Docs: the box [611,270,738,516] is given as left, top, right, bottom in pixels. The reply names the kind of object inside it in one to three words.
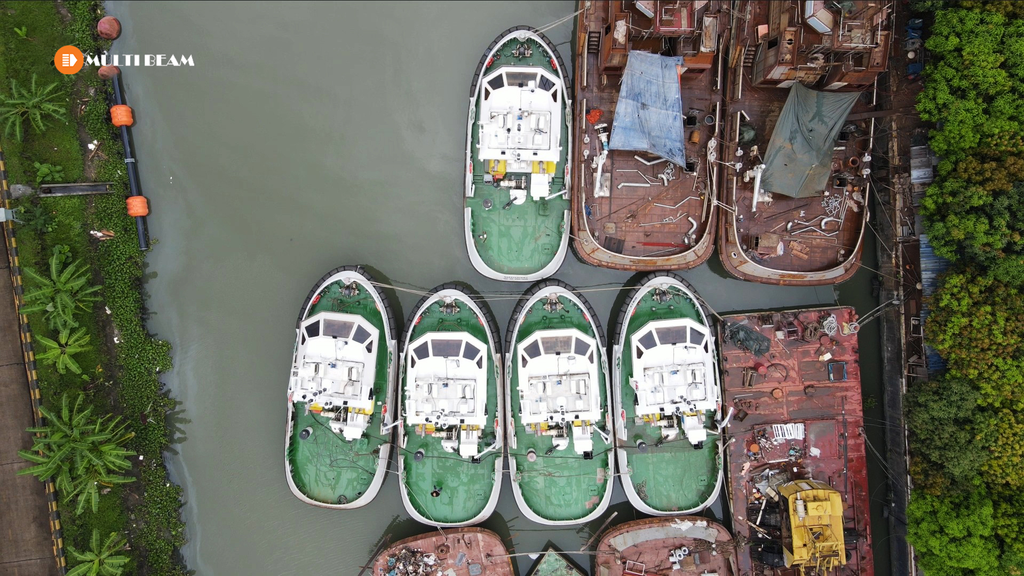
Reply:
boat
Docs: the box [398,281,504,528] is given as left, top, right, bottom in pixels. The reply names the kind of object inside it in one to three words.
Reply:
boat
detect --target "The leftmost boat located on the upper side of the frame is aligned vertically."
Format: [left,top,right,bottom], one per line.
[466,26,574,281]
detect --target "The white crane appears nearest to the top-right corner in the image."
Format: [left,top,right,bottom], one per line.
[748,163,777,211]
